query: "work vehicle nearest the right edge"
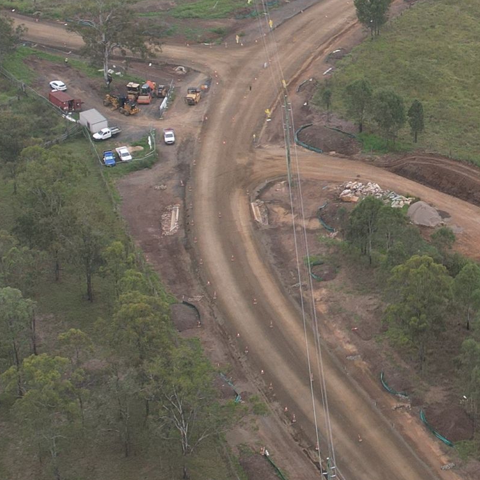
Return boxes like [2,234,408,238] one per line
[184,83,201,102]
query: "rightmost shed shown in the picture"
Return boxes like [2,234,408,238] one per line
[78,109,107,134]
